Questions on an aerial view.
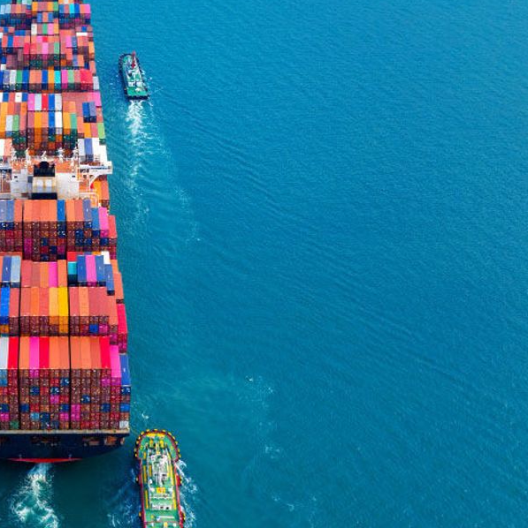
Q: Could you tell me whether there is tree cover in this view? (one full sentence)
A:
No, the scene doesn't show any tree cover.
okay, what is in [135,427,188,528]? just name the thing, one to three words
boat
